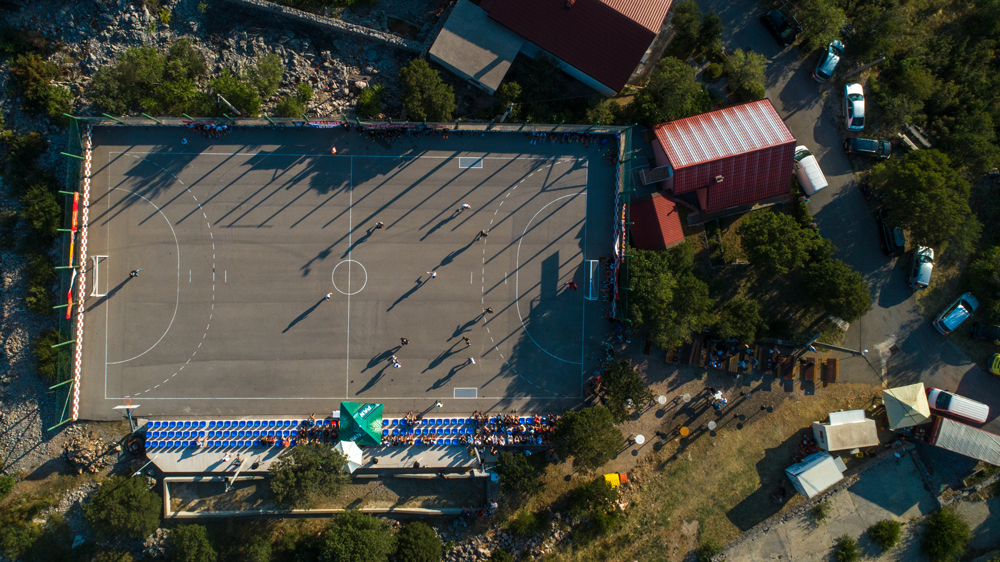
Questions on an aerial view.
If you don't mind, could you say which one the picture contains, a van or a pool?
van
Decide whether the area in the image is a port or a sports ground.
sports ground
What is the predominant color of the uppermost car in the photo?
black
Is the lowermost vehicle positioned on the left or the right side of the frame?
right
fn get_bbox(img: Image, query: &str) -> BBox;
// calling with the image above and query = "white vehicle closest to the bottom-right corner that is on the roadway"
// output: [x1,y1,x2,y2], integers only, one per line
[925,385,996,425]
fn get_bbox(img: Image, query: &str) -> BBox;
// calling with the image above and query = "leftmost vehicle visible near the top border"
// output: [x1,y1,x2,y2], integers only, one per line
[758,3,801,54]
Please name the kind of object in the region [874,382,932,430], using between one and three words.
gazebo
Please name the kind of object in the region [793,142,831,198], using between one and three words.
van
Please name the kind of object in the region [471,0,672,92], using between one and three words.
house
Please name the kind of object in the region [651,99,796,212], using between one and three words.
house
